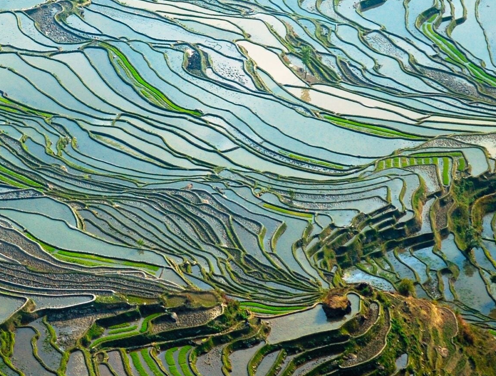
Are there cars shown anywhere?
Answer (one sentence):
No, I find no car anywhere in the image.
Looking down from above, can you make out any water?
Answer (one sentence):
Yes, water can be seen from above here.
